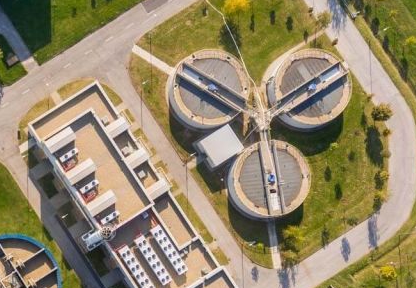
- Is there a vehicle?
No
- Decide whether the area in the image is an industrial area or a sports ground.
industrial area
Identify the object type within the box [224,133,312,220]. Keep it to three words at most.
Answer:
storage tank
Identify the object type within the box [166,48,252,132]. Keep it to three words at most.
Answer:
storage tank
